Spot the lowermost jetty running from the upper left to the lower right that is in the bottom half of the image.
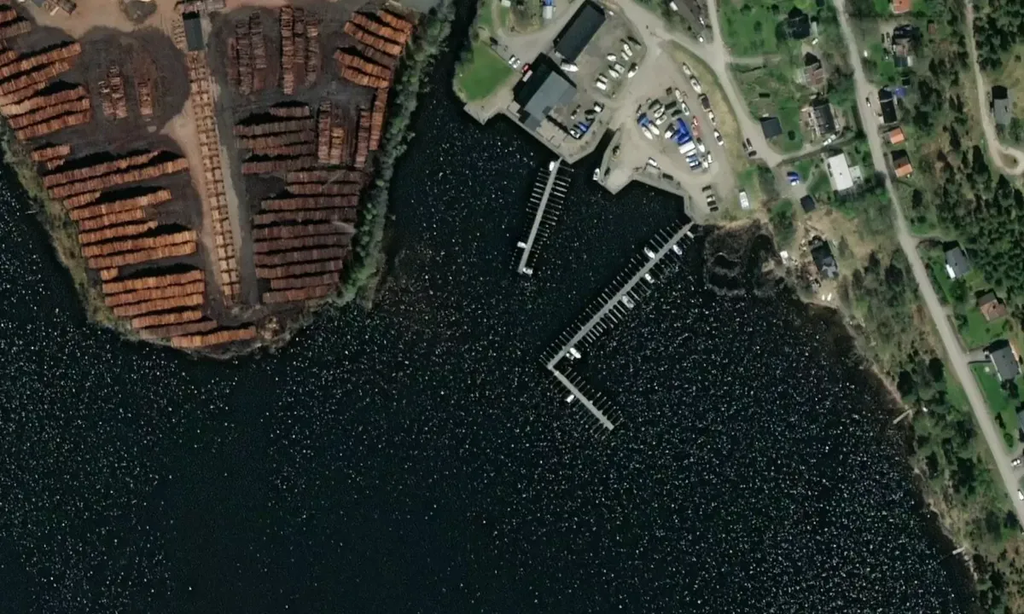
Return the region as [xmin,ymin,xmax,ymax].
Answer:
[547,363,615,431]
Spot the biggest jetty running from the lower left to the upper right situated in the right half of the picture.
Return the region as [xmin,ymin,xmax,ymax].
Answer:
[547,215,695,369]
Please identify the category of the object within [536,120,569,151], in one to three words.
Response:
building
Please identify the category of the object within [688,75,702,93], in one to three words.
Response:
boat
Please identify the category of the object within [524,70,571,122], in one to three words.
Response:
building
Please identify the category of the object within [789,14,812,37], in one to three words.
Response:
house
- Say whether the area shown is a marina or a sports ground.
marina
